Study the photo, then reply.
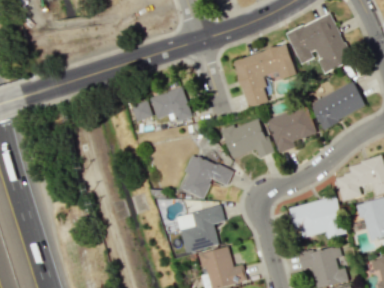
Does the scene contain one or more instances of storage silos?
No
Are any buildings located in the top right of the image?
Yes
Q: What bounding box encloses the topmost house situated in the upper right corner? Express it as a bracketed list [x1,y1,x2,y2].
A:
[286,14,348,64]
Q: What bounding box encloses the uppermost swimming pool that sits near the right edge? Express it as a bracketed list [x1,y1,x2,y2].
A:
[358,233,376,252]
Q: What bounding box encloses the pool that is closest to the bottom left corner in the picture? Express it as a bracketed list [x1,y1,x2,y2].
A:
[167,202,184,220]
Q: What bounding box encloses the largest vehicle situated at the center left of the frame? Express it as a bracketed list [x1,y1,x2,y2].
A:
[2,144,18,182]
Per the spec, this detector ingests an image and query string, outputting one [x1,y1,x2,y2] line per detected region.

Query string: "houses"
[177,204,226,253]
[358,198,384,243]
[373,256,384,288]
[300,246,350,288]
[268,108,316,153]
[286,14,348,64]
[150,86,194,122]
[223,119,274,158]
[181,154,235,198]
[234,44,295,108]
[290,198,346,238]
[336,150,384,202]
[315,82,366,128]
[131,101,154,122]
[200,246,248,288]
